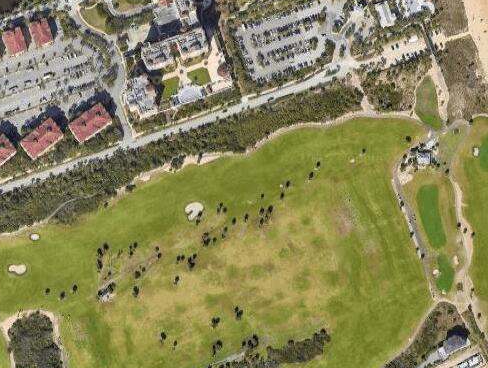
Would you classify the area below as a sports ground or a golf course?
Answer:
golf course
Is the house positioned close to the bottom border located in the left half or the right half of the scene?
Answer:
right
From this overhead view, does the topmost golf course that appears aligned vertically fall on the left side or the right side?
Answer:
right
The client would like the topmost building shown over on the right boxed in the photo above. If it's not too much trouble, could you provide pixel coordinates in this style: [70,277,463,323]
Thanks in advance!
[376,1,396,27]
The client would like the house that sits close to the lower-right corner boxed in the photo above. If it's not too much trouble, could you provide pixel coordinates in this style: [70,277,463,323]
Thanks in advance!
[440,333,466,355]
